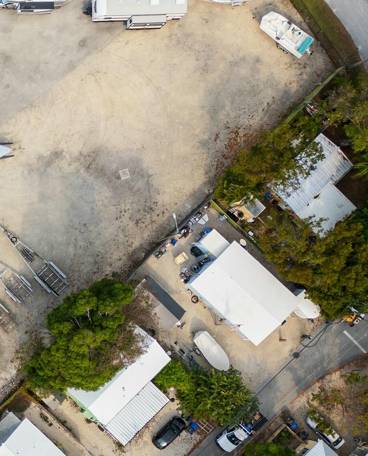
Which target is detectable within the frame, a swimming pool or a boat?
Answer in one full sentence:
I can see a boat in this picture.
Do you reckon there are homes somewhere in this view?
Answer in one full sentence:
Yes, looking at the shot, I can spot a home.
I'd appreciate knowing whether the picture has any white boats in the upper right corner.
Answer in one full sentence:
Yes, a white boat is visible in the upper right corner.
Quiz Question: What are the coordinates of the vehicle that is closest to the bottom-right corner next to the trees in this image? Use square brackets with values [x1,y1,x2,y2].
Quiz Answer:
[303,414,346,449]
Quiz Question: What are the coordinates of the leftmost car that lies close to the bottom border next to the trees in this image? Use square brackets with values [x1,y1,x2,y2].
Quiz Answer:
[150,415,189,449]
